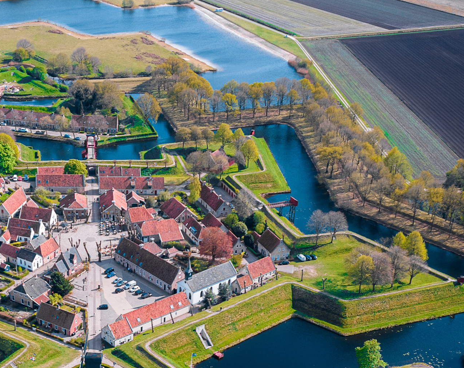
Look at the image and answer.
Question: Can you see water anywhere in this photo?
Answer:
Yes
